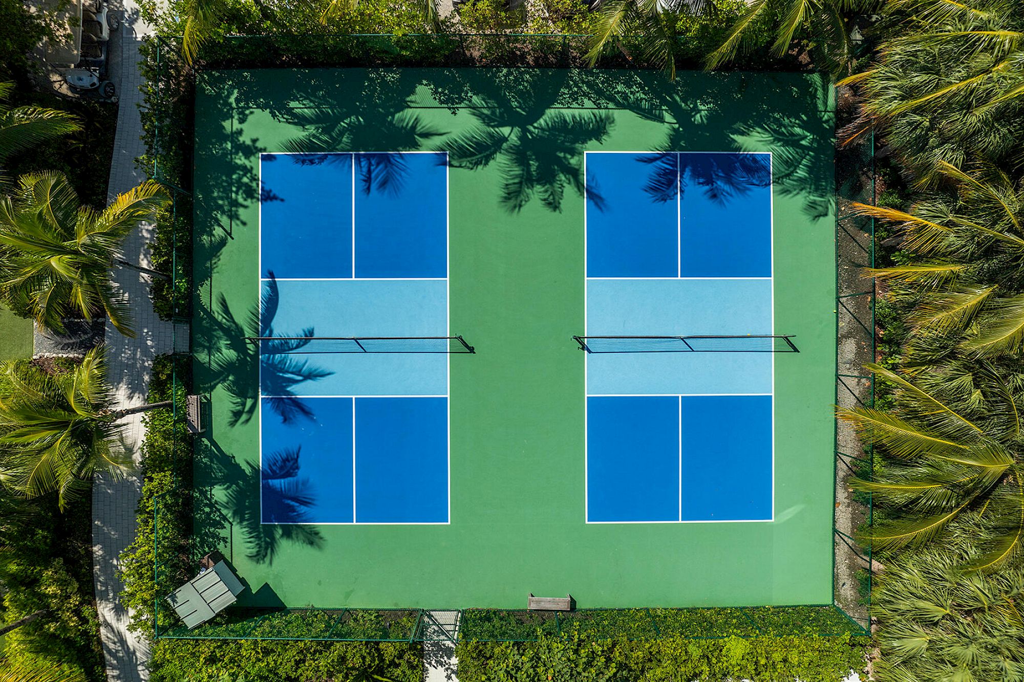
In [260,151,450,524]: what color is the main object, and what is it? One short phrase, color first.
blue sports court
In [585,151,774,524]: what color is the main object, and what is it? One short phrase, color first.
blue sports court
